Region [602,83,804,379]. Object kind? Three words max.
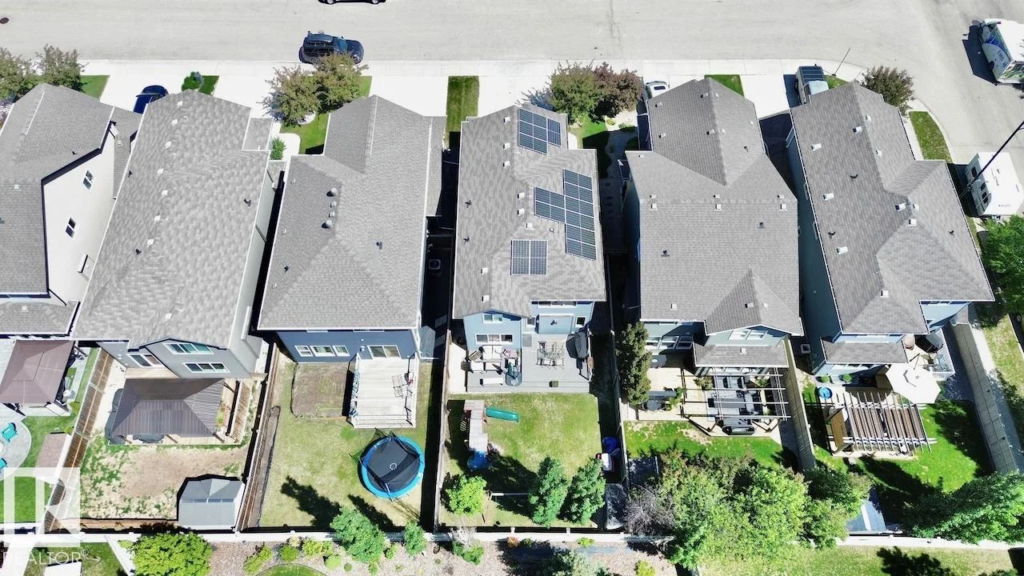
house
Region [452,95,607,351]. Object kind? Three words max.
house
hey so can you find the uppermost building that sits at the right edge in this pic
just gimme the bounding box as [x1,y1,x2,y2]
[771,89,996,375]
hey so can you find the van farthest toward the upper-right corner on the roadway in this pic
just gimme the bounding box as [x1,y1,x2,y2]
[981,19,1024,81]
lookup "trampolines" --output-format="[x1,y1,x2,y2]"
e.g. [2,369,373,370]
[356,428,426,502]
